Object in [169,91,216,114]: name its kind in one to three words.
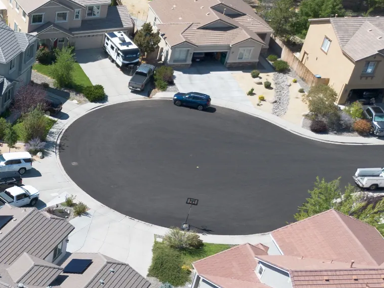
car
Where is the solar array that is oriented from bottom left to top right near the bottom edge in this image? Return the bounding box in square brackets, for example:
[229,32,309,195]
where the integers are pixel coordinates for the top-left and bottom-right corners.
[65,257,101,277]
